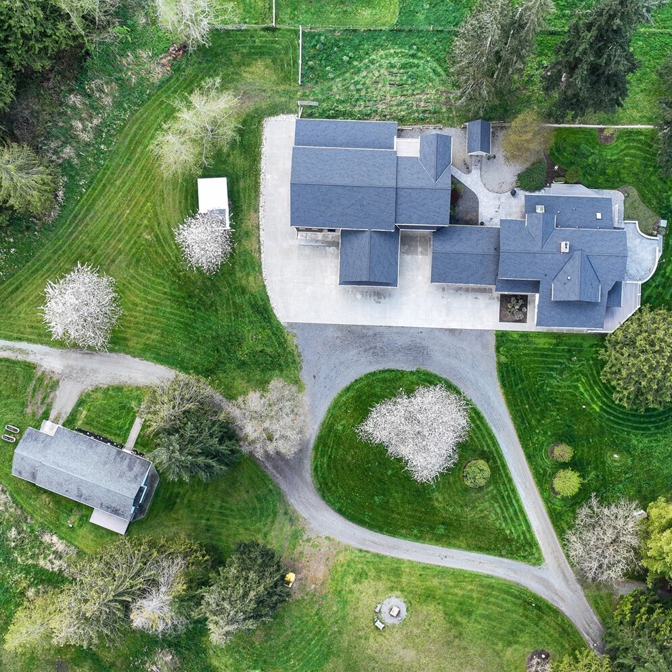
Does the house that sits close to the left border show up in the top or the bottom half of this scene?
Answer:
bottom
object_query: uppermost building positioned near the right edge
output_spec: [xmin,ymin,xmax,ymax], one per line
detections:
[430,185,661,332]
